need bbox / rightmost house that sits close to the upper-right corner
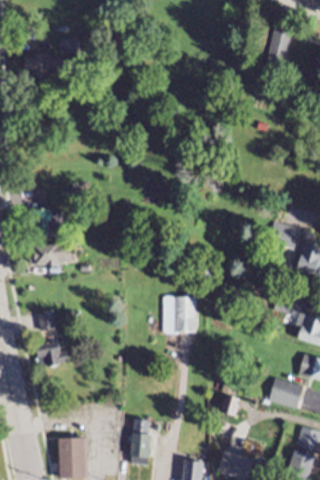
[268,28,290,60]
